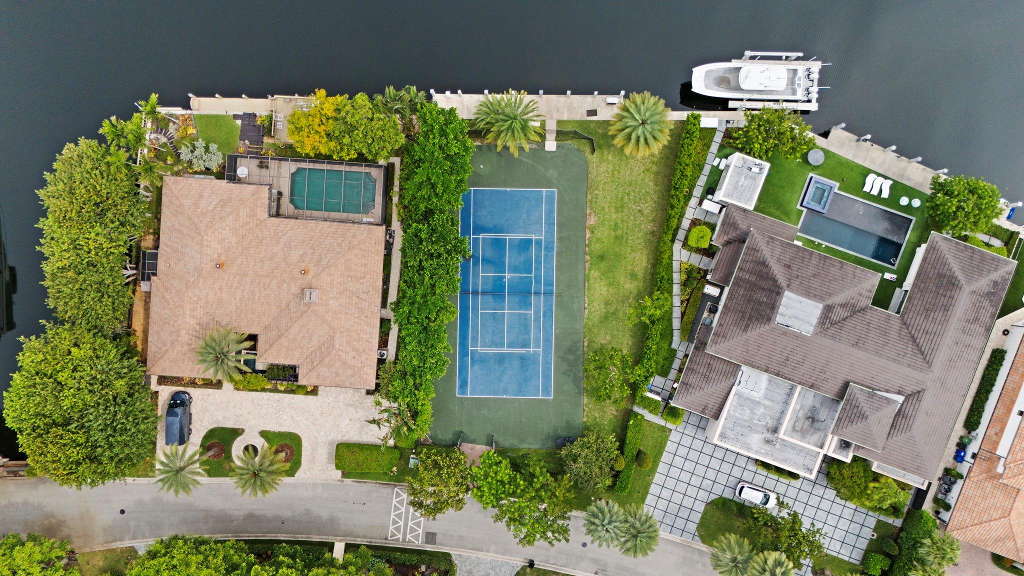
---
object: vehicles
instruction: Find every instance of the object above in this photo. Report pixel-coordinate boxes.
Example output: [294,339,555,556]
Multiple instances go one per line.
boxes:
[735,483,781,511]
[162,392,191,449]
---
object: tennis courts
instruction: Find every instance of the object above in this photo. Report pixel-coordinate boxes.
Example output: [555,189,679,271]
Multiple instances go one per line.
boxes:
[430,144,588,448]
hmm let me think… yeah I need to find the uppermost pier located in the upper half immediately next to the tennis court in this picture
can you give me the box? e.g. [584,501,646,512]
[430,89,624,120]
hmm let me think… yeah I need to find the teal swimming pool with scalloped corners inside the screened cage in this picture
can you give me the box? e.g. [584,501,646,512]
[286,165,379,217]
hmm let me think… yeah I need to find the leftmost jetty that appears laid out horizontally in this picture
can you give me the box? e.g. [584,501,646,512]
[189,93,274,112]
